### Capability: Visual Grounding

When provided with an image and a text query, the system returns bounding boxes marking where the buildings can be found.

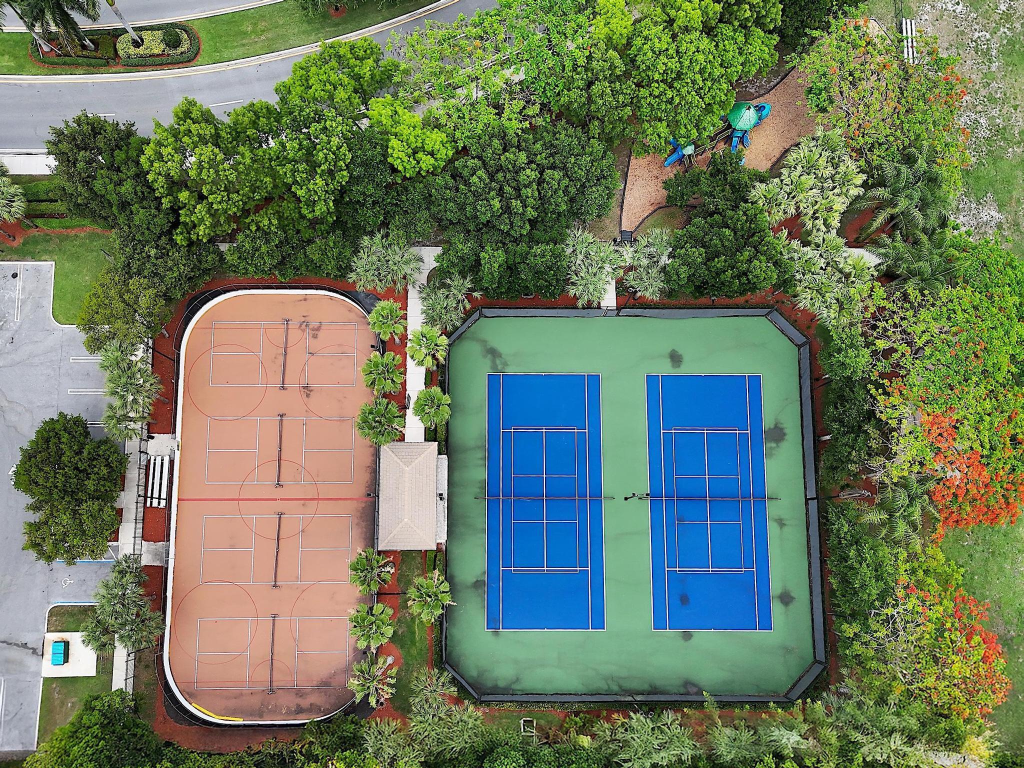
[378,441,439,551]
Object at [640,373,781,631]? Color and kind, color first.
blue tennis court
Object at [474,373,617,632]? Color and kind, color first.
blue tennis court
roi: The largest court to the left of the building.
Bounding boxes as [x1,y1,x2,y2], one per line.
[151,283,380,733]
